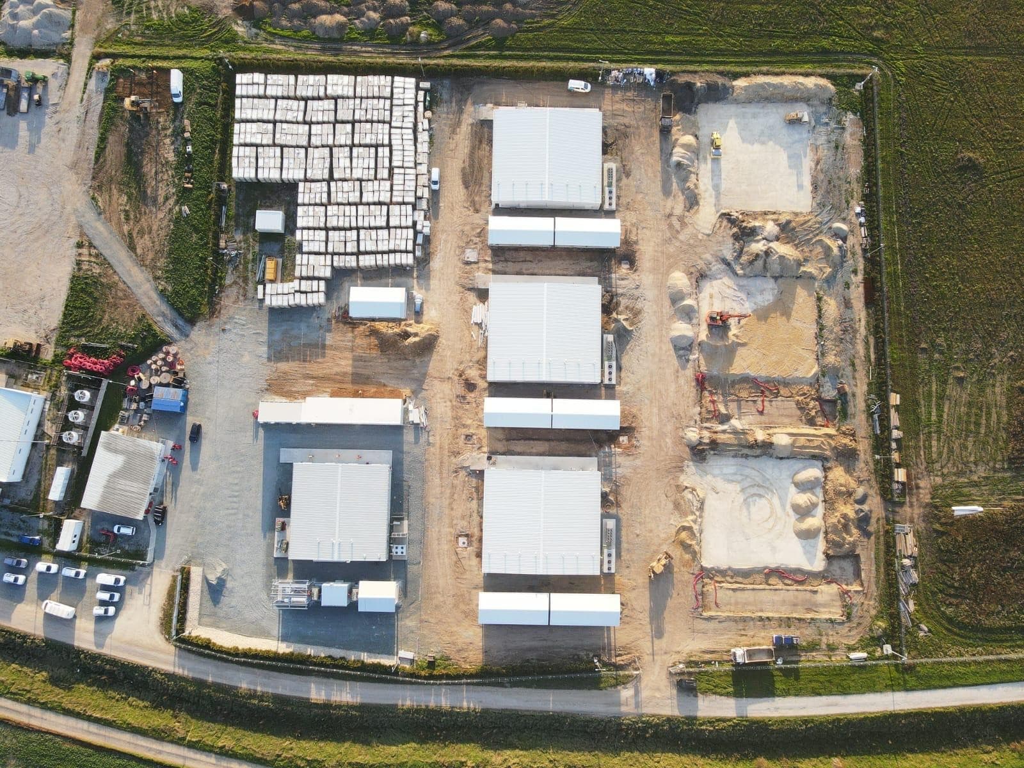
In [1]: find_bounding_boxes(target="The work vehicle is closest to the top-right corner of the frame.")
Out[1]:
[782,111,808,126]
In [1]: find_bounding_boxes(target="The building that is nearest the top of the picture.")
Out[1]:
[491,109,603,210]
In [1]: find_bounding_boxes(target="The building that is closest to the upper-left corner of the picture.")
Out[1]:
[256,211,287,235]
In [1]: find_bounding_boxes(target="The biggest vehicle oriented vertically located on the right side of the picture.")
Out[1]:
[659,92,675,133]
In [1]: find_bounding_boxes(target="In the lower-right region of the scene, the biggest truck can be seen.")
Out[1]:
[729,644,778,666]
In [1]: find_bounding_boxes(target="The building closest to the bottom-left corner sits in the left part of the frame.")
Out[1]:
[58,518,85,550]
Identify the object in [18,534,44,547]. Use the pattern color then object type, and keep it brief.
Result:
blue vehicle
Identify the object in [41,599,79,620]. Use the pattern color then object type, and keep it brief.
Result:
white vehicle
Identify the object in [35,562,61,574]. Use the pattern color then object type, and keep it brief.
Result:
white vehicle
